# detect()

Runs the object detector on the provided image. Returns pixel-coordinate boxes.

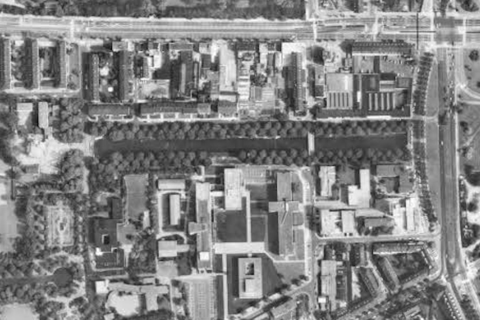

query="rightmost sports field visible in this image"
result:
[126,174,149,221]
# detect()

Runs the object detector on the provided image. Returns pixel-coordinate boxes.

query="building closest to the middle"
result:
[223,169,241,210]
